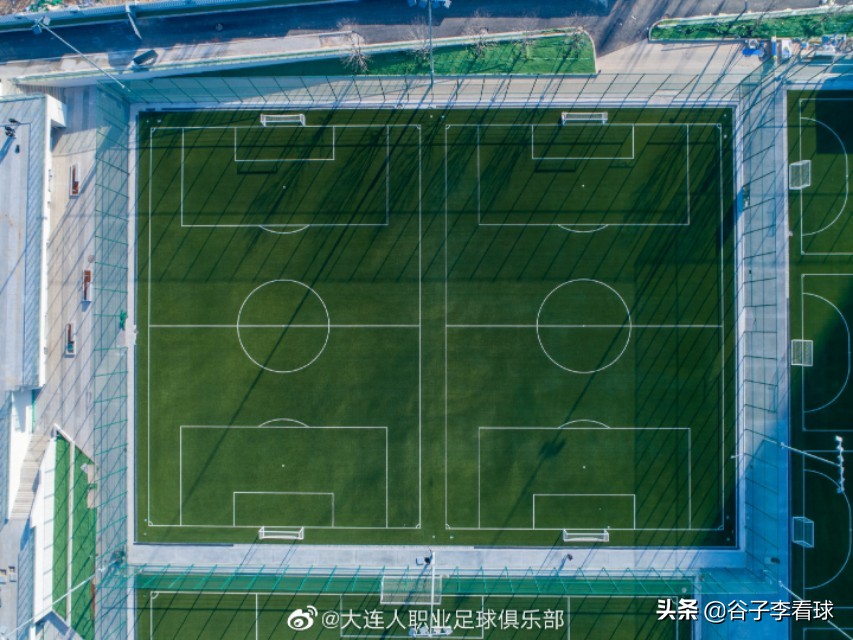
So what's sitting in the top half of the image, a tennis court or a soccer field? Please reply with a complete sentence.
The one visible in the top half of the image is a soccer field.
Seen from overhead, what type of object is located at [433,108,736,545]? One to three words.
soccer field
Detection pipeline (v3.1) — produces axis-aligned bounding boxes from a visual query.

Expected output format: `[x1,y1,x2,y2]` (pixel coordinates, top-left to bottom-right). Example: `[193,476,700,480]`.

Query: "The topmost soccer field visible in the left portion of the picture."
[135,110,433,542]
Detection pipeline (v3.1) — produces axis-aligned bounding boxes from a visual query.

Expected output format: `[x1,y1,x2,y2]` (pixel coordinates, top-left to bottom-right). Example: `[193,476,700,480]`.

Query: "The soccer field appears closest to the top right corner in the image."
[788,88,853,264]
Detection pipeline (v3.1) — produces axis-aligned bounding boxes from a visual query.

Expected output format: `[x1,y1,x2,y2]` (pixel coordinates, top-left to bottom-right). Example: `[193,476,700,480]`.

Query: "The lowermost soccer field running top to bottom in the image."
[790,441,853,618]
